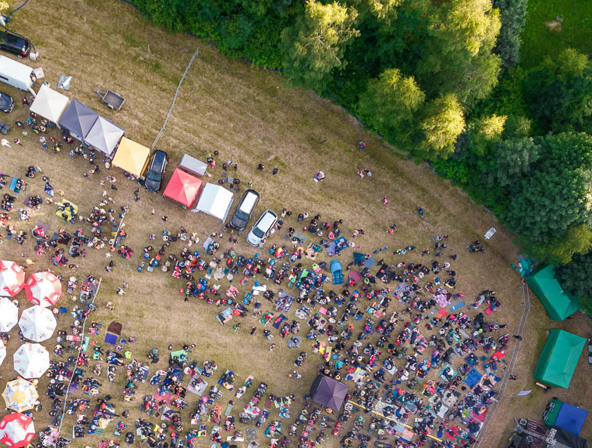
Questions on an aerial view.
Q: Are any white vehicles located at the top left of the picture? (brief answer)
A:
Yes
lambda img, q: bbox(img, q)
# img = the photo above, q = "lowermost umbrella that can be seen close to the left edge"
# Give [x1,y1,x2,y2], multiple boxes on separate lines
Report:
[0,412,34,448]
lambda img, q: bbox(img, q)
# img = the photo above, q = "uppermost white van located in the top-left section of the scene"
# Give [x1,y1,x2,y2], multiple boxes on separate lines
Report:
[0,59,50,98]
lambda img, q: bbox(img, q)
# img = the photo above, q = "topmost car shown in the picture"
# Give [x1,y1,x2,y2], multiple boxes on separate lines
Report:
[0,30,34,58]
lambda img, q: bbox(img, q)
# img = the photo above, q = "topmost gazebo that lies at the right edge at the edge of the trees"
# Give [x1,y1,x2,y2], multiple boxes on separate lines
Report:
[521,266,579,321]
